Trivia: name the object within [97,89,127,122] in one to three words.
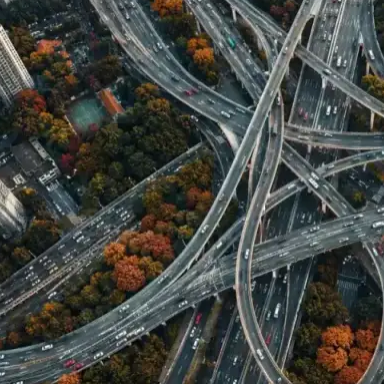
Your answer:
building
